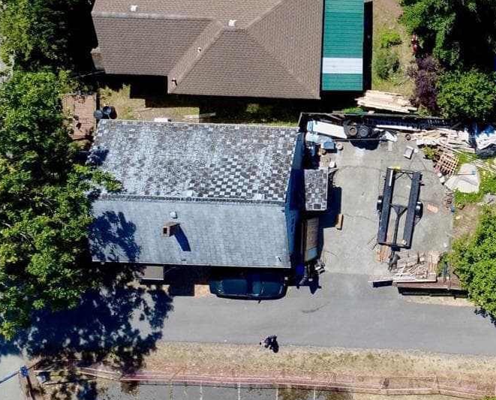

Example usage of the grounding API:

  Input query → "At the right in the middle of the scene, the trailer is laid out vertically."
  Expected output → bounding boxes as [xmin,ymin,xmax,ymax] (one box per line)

[375,168,423,269]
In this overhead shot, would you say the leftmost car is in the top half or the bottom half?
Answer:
bottom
